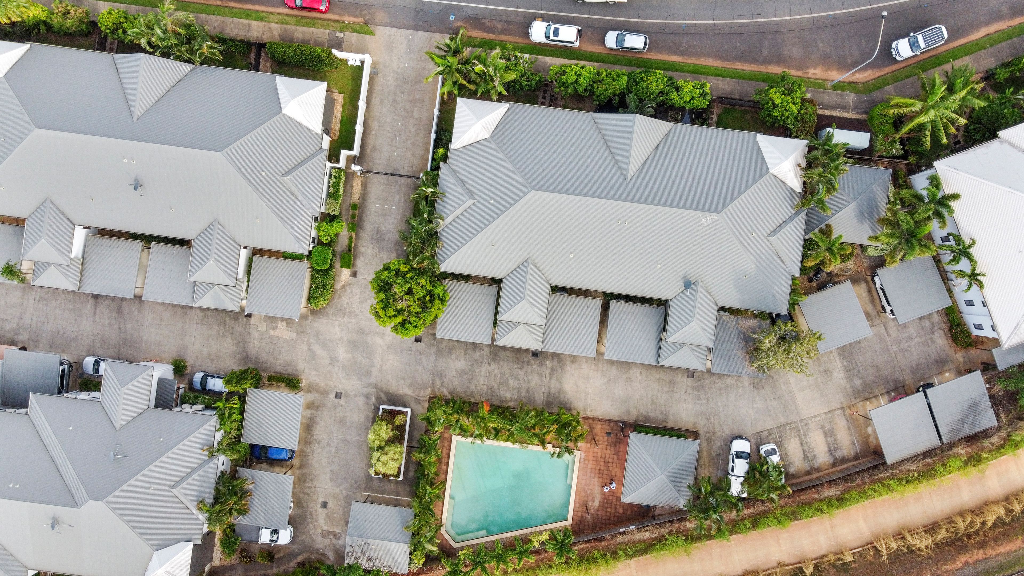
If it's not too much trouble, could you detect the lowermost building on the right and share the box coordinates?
[620,431,701,511]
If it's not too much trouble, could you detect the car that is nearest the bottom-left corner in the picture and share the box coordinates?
[83,354,134,378]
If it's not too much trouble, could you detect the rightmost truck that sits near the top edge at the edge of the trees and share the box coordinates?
[887,22,950,63]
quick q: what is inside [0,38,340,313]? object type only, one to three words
building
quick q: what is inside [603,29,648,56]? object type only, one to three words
car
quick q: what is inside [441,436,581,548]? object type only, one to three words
swimming pool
